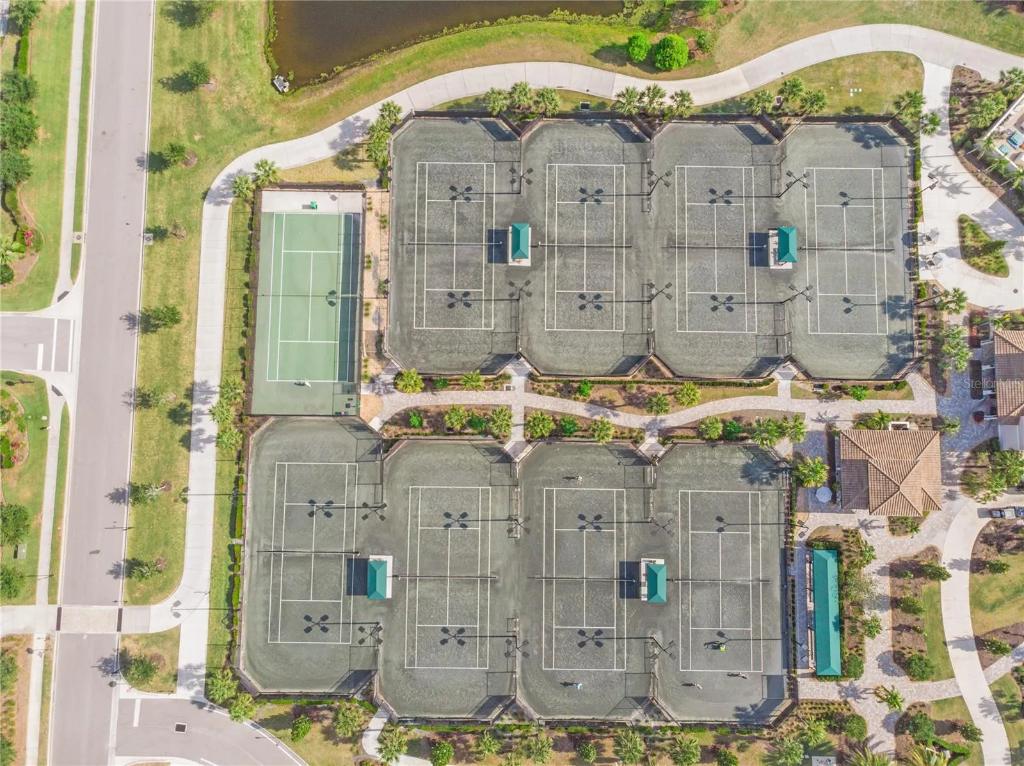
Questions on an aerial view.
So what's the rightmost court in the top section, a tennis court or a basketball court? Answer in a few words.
tennis court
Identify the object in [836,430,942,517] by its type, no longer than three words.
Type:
building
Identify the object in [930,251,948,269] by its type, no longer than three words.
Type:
umbrella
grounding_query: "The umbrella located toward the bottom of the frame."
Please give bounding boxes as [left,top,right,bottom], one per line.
[815,485,832,502]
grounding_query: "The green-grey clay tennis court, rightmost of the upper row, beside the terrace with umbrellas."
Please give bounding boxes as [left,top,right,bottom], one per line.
[780,123,913,378]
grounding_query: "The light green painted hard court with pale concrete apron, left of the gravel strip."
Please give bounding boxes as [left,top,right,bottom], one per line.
[252,193,361,415]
